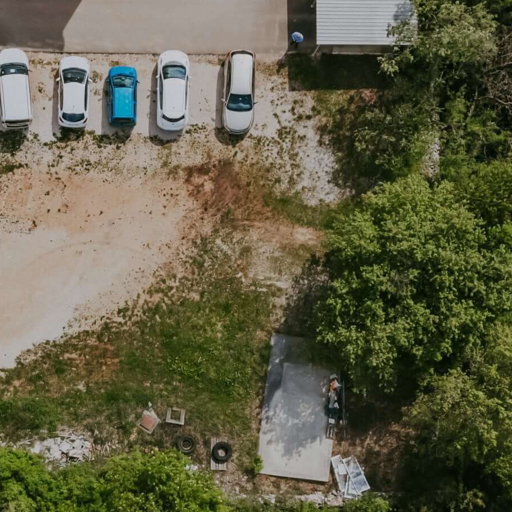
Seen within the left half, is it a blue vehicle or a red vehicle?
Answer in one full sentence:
There is a blue vehicle within the left half.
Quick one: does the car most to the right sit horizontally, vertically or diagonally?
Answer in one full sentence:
Seen from above, the car most to the right lies vertically.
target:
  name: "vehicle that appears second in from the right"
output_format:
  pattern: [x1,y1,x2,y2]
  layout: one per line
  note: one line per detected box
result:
[154,49,194,132]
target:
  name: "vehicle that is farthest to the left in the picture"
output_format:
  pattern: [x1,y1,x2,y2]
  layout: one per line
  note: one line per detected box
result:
[0,49,33,130]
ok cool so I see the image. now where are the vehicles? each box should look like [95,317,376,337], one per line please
[0,49,33,130]
[154,49,194,132]
[221,49,261,133]
[54,55,92,130]
[105,65,140,127]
